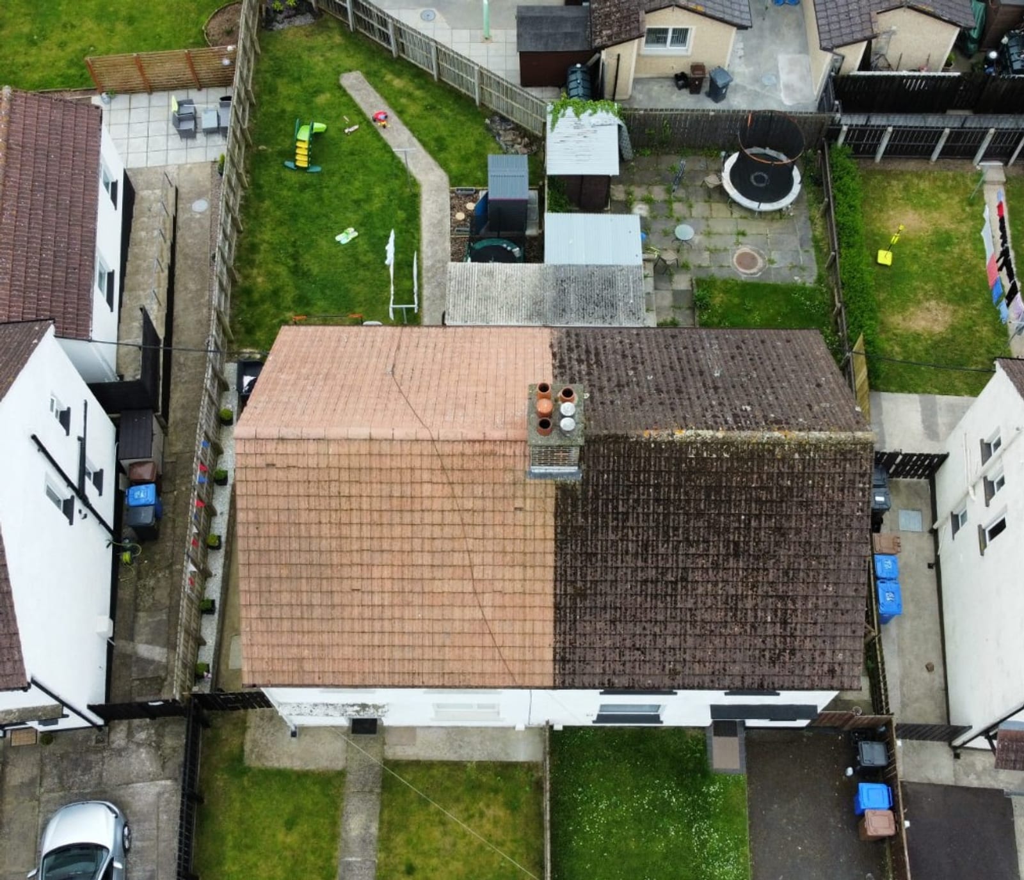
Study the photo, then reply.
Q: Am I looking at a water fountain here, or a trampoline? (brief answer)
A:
trampoline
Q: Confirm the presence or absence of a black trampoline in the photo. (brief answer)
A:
Yes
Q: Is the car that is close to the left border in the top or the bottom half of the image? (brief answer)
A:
bottom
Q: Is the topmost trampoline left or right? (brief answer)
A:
right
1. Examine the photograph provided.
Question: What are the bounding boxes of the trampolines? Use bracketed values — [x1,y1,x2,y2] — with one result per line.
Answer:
[723,113,804,225]
[471,229,524,264]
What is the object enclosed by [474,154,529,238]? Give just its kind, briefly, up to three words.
shed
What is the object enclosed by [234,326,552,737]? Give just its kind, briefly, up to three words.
house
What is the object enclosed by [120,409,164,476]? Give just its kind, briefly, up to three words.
building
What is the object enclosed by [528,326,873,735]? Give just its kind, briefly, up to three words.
house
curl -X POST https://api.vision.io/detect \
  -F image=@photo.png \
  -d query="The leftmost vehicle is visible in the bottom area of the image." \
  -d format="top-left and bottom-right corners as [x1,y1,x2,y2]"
[24,796,129,880]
